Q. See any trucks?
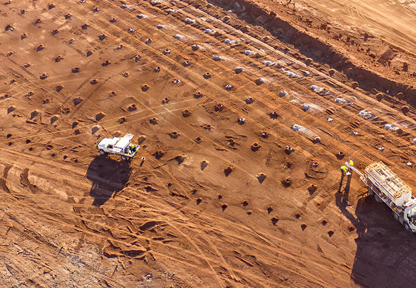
Yes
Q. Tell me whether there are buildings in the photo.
No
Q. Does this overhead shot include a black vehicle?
No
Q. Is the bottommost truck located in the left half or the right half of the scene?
right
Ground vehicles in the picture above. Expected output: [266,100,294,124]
[91,130,139,161]
[351,153,416,237]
